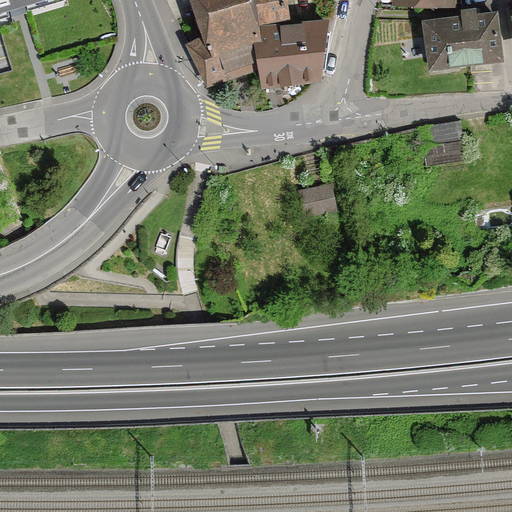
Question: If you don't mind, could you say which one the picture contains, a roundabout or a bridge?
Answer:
roundabout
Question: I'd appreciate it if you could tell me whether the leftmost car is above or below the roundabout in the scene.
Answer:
below it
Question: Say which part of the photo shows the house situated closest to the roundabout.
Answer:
top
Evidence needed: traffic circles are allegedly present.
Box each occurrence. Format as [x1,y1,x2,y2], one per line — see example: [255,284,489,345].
[92,62,202,172]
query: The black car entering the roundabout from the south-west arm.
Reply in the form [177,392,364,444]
[128,171,149,192]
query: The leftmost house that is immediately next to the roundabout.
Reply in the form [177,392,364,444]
[186,0,262,87]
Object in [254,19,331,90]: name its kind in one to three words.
house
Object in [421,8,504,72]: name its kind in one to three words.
house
